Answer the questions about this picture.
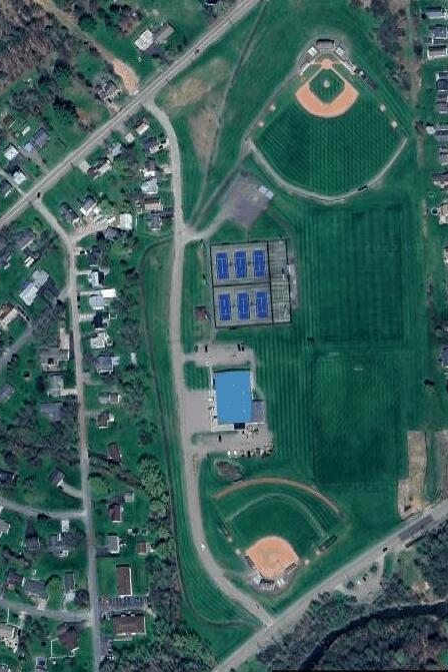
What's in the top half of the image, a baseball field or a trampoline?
baseball field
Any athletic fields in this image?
Yes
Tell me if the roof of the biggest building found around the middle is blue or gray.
blue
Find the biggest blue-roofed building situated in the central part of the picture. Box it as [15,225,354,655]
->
[212,369,266,432]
